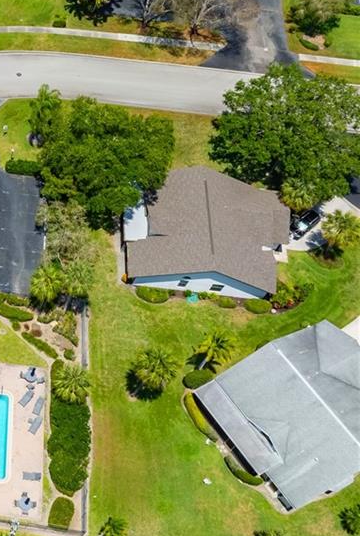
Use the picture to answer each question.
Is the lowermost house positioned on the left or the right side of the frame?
right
